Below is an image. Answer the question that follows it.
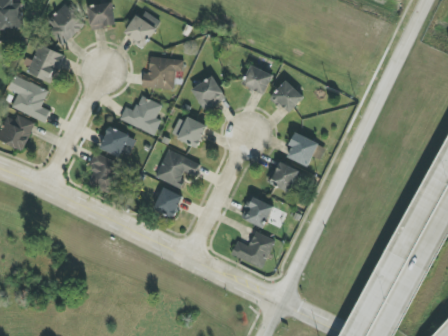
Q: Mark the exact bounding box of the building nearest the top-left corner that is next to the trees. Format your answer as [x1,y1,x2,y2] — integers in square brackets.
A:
[0,0,24,29]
